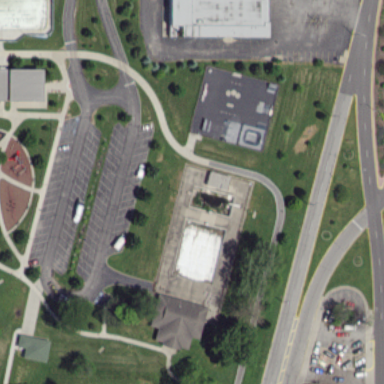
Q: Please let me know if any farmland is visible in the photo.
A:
No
